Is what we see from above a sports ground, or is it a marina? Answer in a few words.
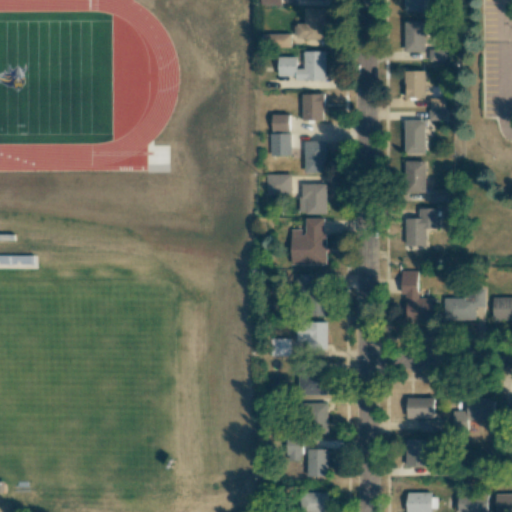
sports ground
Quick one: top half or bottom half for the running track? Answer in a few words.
top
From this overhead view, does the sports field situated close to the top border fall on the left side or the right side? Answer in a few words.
left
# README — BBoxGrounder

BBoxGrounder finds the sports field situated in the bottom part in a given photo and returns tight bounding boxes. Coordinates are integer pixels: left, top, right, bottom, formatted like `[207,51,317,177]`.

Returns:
[0,262,181,512]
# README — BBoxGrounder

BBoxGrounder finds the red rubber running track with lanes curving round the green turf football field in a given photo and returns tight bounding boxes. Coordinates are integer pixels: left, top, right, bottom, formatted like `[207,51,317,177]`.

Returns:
[0,0,180,171]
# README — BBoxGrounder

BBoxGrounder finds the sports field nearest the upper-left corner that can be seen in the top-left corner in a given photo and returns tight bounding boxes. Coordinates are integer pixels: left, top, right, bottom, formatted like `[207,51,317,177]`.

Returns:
[0,12,113,143]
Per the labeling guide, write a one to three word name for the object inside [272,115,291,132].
building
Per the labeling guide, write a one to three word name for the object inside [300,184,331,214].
house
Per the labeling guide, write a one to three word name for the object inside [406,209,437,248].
house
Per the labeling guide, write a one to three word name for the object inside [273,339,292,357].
shed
